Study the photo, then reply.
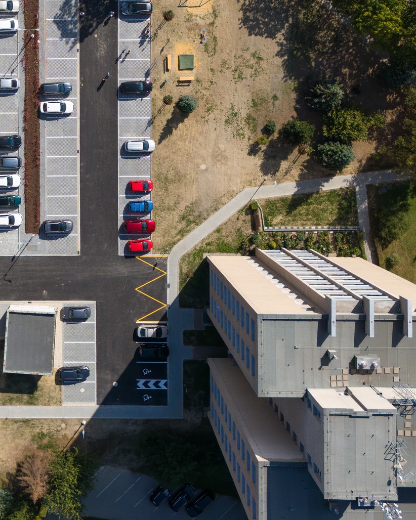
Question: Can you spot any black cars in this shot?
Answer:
Yes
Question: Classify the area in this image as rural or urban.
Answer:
urban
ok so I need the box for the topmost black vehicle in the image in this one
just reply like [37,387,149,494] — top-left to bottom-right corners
[120,1,154,16]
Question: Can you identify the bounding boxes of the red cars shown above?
[128,237,155,254]
[128,178,154,194]
[123,218,157,236]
